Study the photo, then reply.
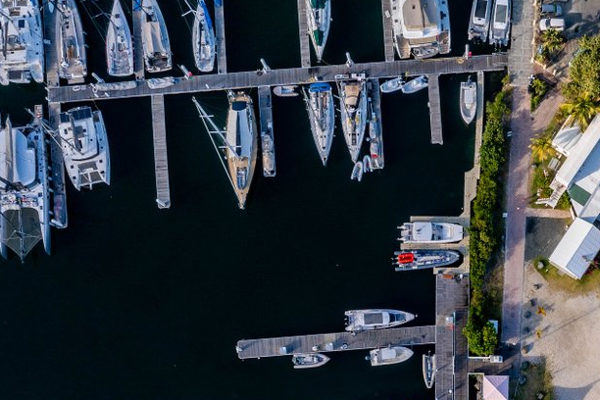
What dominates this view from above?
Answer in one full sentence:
The largest share of the image is taken up by water.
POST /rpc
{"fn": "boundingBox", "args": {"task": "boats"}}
[349,162,362,183]
[364,347,413,367]
[394,251,459,271]
[390,0,453,62]
[341,308,415,331]
[30,0,89,86]
[18,101,111,192]
[177,0,215,75]
[124,0,170,76]
[187,78,255,209]
[83,0,131,78]
[467,0,487,46]
[397,222,463,243]
[380,78,403,93]
[264,148,276,171]
[362,156,371,175]
[490,0,510,51]
[0,106,52,257]
[292,353,329,369]
[369,113,379,140]
[403,77,428,94]
[301,0,330,64]
[370,143,379,168]
[0,0,46,89]
[276,86,300,95]
[423,354,436,387]
[297,79,337,167]
[331,77,368,163]
[459,78,476,125]
[149,78,176,87]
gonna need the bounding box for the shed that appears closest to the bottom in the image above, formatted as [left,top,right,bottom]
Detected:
[483,376,509,400]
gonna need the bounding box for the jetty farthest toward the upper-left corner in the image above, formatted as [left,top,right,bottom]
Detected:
[44,0,60,87]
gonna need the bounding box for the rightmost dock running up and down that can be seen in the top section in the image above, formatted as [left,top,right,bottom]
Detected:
[428,75,443,145]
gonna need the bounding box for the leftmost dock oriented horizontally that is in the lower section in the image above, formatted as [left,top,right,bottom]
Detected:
[237,326,436,360]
